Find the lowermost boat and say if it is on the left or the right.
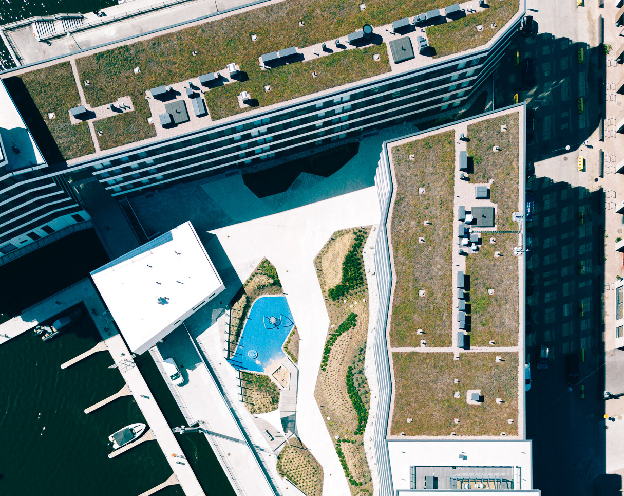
left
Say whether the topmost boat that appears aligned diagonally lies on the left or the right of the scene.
left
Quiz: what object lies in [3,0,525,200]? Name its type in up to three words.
building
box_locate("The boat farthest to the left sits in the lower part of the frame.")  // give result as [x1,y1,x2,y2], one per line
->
[35,303,80,344]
